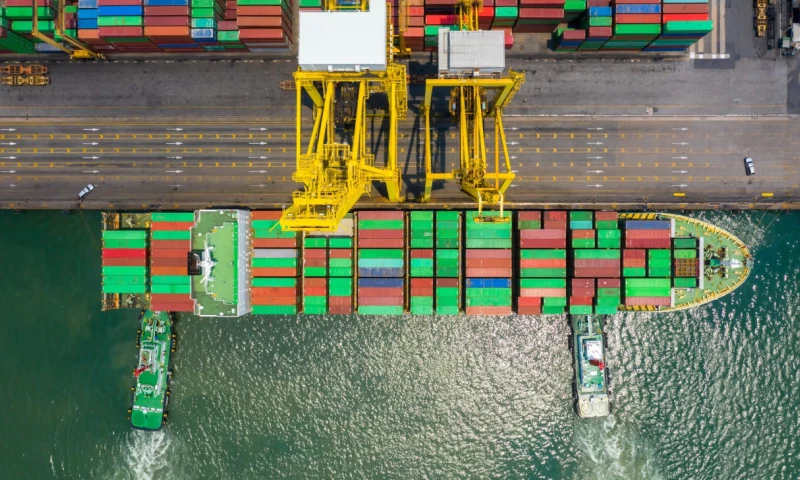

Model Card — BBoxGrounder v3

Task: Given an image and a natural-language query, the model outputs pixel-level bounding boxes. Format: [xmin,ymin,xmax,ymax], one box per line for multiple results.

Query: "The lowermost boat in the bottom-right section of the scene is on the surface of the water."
[567,313,612,418]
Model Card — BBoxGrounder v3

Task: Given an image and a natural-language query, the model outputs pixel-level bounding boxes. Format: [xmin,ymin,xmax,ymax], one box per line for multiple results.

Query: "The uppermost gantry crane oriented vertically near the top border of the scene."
[386,0,413,57]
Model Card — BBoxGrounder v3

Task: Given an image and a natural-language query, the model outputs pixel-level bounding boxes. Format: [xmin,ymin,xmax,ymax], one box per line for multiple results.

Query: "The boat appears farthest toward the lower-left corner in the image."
[127,310,174,432]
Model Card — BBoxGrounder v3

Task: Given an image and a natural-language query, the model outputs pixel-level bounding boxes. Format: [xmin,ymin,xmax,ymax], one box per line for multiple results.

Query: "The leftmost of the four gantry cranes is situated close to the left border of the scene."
[27,0,105,57]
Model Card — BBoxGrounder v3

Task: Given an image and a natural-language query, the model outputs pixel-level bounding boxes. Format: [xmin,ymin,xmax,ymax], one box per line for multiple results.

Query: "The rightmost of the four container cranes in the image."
[412,0,534,222]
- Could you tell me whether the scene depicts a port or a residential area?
port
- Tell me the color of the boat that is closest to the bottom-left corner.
green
